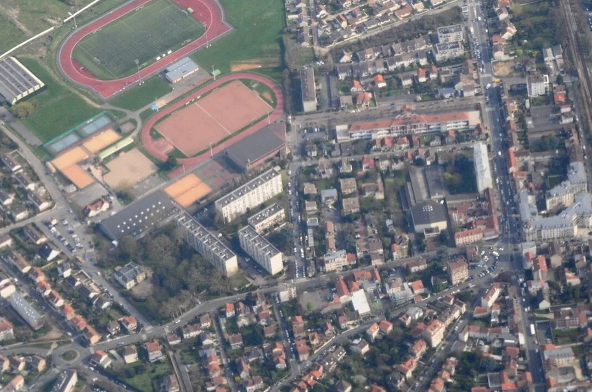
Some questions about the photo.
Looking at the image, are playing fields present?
Yes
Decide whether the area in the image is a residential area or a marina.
residential area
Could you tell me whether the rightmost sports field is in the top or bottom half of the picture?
top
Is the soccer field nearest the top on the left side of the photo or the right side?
left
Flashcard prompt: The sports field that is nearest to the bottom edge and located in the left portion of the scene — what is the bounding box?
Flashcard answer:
[104,147,158,188]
